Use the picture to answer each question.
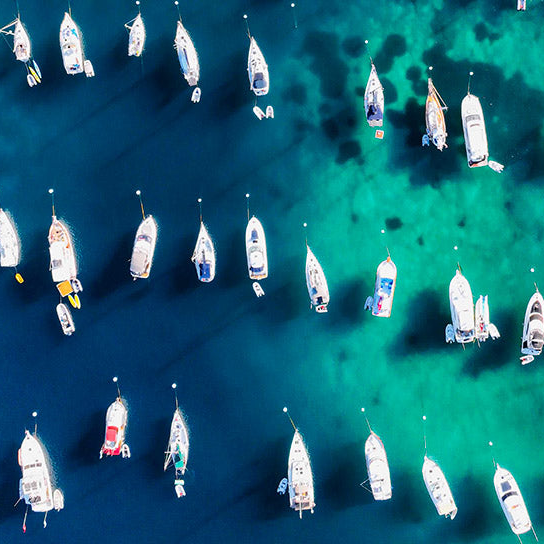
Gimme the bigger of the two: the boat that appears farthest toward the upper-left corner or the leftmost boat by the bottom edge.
the leftmost boat by the bottom edge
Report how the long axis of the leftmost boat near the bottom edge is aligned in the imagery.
vertically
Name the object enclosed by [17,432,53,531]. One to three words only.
boat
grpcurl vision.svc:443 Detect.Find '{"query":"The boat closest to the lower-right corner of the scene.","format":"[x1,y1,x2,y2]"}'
[497,467,535,542]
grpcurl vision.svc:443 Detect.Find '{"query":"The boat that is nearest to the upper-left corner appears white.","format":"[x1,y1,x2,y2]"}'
[1,18,31,63]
